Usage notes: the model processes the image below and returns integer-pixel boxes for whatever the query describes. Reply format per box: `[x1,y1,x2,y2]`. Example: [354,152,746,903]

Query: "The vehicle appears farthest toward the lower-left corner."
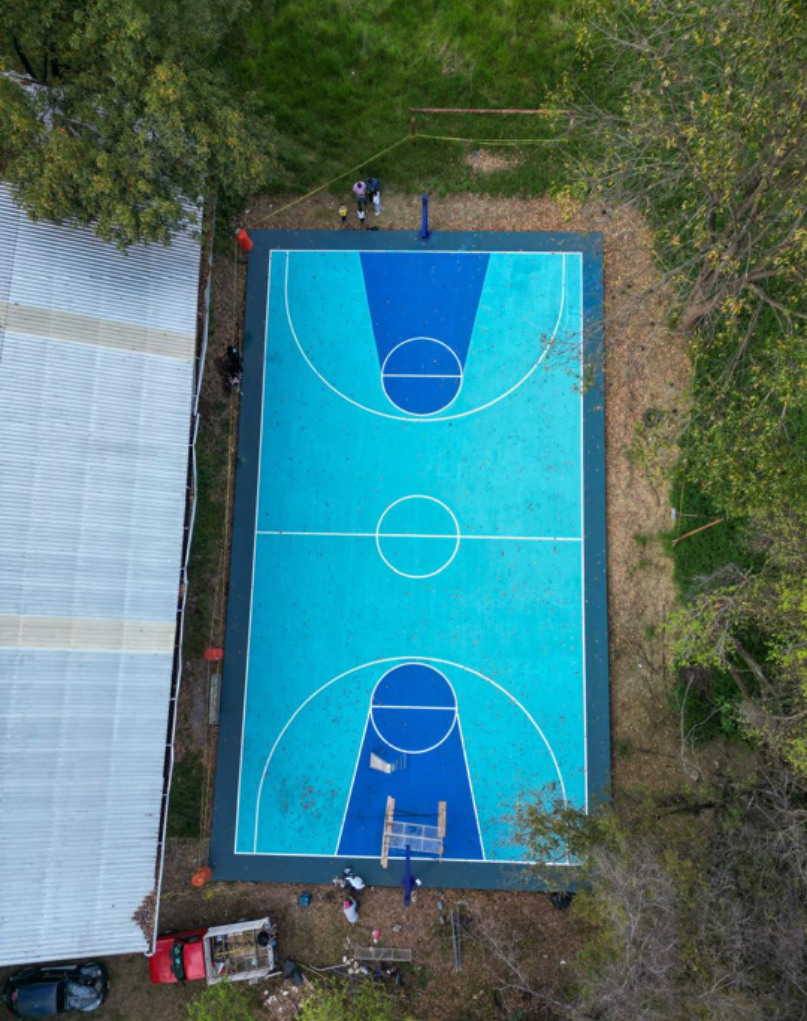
[2,962,111,1021]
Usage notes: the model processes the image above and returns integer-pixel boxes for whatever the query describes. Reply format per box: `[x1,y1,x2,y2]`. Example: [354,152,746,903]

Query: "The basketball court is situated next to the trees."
[210,229,613,892]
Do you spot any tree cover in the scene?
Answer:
Yes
